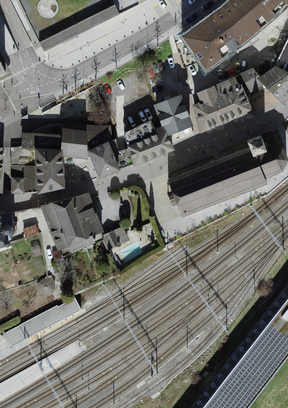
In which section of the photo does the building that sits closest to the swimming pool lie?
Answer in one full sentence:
The building that sits closest to the swimming pool is located in the center region of the scene.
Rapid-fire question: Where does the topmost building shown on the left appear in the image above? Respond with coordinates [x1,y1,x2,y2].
[40,0,120,52]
